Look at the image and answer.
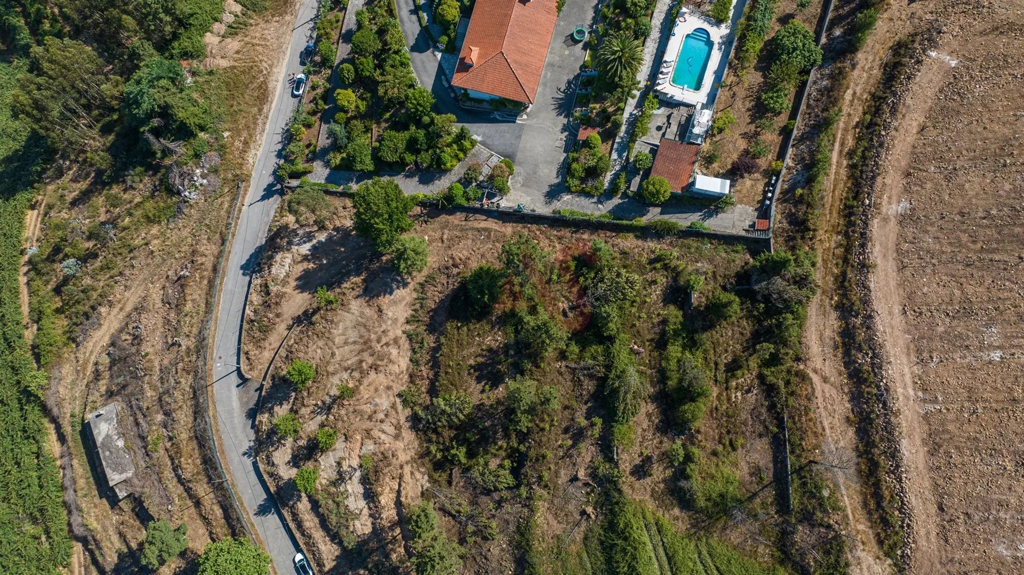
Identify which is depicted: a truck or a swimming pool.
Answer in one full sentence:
It is a swimming pool that can be seen here.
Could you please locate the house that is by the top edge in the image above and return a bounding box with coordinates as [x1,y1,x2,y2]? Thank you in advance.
[451,0,564,107]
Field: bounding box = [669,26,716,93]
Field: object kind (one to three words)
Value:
swimming pool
